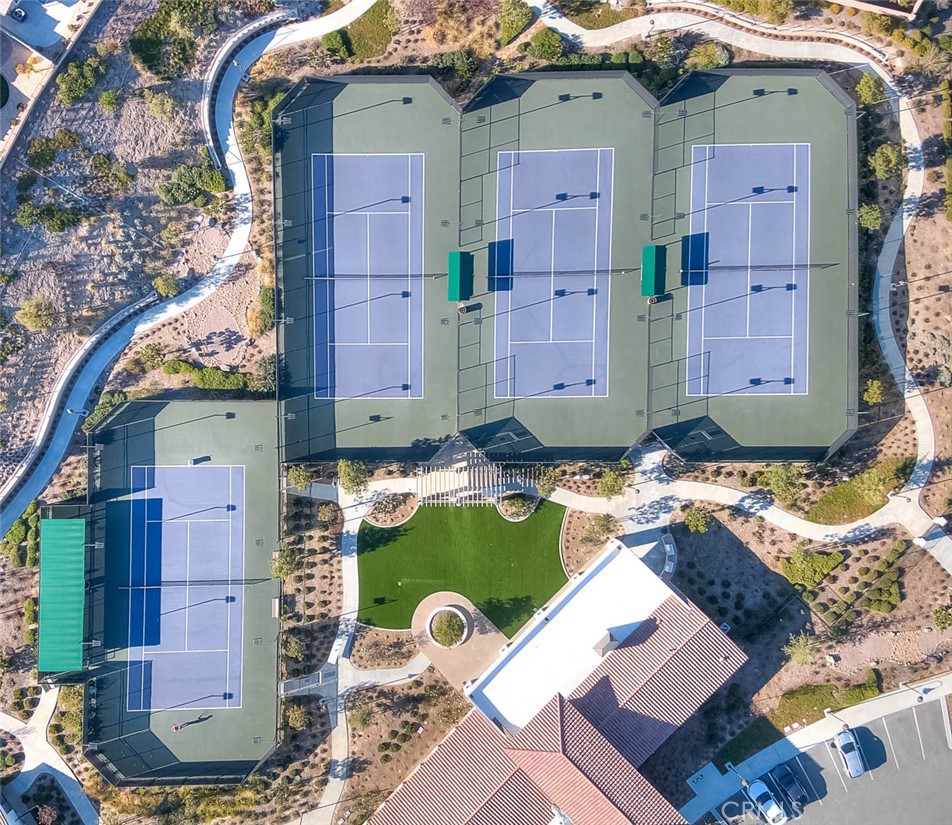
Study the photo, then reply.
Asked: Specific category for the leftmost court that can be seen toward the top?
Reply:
tennis court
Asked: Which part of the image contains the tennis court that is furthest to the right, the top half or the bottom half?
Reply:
top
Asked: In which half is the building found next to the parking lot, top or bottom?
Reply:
bottom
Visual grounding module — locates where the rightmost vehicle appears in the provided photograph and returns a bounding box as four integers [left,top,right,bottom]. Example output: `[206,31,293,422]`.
[836,732,867,782]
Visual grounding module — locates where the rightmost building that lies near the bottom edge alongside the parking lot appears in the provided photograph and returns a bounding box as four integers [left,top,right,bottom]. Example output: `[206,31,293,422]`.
[361,537,748,825]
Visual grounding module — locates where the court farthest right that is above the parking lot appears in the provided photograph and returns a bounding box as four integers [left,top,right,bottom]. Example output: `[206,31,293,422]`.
[647,77,848,460]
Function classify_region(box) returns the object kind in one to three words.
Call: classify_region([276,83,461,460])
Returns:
tennis court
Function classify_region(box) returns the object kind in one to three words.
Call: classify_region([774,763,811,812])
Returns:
car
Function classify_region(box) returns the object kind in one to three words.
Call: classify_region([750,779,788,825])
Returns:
car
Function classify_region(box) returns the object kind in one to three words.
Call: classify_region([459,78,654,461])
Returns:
tennis court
